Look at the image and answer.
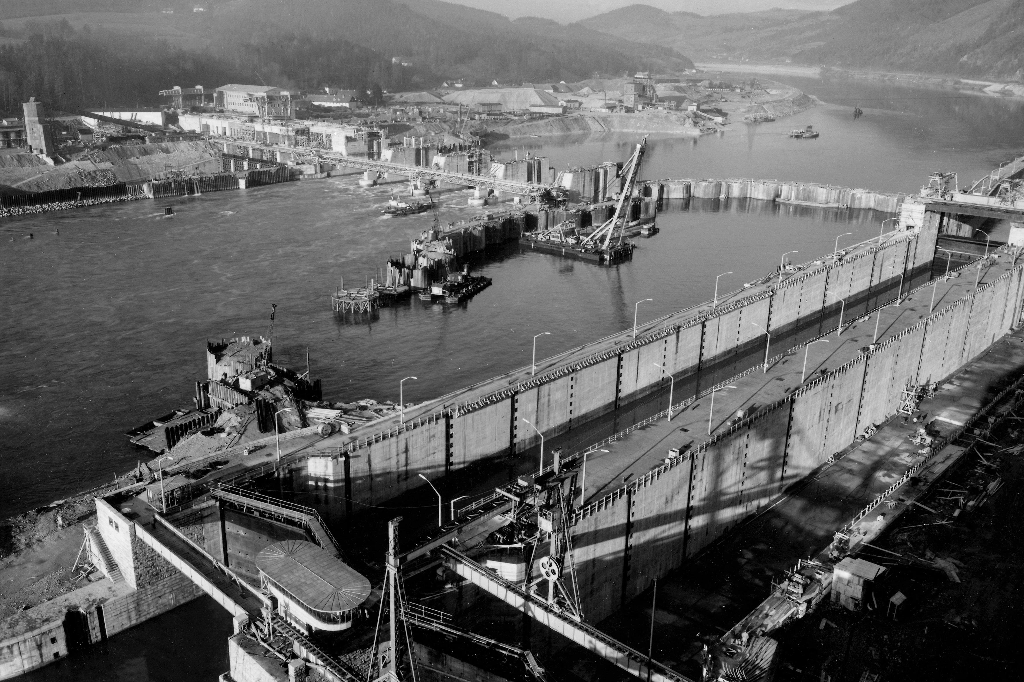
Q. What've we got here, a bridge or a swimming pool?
bridge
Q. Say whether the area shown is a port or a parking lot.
port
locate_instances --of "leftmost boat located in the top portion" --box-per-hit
[383,188,448,214]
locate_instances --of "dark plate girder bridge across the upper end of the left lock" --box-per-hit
[925,202,1024,222]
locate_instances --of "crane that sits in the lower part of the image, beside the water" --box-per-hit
[361,442,614,682]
